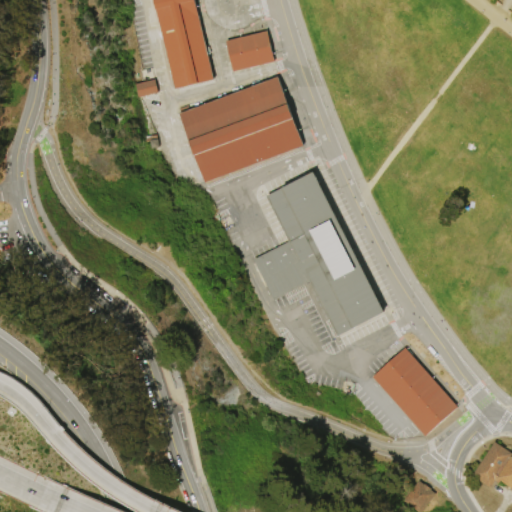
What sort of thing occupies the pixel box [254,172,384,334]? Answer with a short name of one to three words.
building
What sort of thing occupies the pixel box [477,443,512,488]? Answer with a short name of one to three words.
house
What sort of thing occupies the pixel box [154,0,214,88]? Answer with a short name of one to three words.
building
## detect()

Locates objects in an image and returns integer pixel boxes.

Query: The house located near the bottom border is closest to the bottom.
[404,482,438,512]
